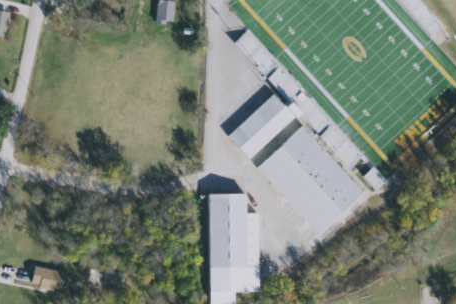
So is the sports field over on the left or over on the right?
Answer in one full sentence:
You can find the sports field on the right side of the picture.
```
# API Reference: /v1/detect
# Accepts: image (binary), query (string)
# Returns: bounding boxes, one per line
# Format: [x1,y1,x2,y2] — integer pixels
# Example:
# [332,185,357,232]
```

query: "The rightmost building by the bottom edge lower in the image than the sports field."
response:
[209,194,260,304]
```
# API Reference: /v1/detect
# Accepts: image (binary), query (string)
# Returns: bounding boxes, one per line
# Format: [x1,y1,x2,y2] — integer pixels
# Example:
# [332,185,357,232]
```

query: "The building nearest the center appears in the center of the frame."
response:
[230,94,296,159]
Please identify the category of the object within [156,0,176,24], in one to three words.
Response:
house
